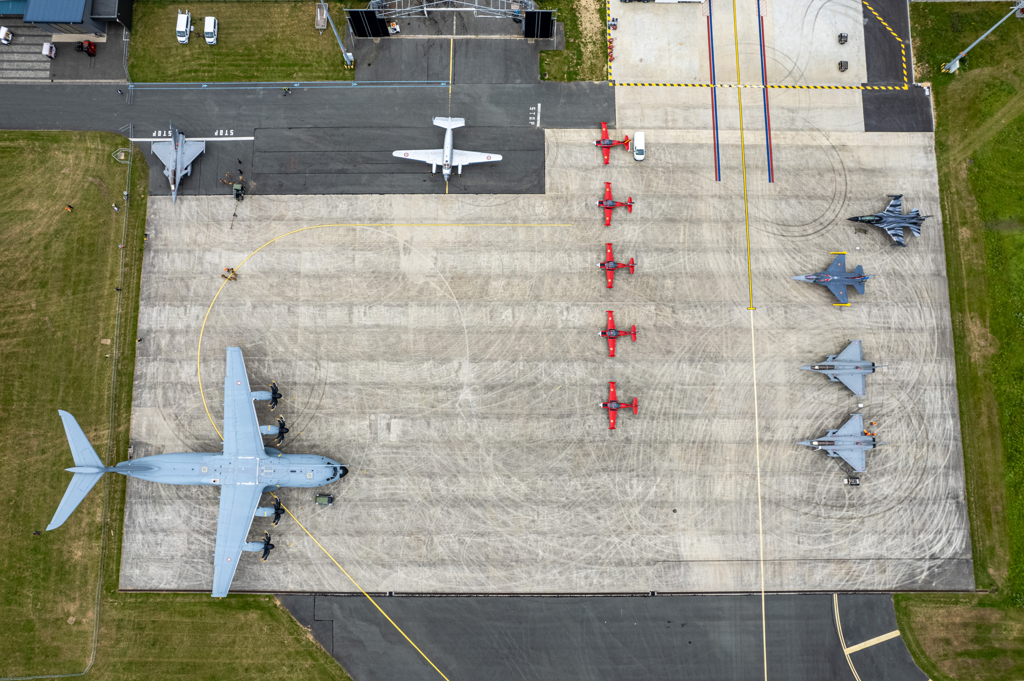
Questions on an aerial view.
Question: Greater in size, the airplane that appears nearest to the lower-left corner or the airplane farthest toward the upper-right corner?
the airplane that appears nearest to the lower-left corner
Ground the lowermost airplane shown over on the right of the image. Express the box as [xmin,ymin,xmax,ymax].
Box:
[796,414,889,472]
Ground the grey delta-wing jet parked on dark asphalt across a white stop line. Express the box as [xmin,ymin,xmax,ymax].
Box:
[152,119,207,202]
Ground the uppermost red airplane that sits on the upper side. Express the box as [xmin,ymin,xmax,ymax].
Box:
[593,122,631,165]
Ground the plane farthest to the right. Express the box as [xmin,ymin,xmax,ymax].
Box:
[849,195,935,248]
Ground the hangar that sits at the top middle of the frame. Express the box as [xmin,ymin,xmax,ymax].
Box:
[344,0,560,51]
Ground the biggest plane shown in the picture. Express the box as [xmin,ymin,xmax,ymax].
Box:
[45,347,348,599]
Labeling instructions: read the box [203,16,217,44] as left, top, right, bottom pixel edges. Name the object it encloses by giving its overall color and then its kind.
white vehicle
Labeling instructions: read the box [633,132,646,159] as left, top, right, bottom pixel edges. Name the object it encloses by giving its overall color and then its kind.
white vehicle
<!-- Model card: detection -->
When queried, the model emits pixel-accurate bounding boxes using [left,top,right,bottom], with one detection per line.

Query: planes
[593,122,631,165]
[393,112,502,182]
[152,119,207,202]
[849,195,935,248]
[597,243,637,288]
[797,340,887,396]
[595,182,635,226]
[599,382,639,430]
[796,414,889,472]
[598,311,639,357]
[792,252,874,306]
[45,347,348,599]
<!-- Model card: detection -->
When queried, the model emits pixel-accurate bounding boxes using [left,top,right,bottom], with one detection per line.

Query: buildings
[23,0,107,33]
[344,0,560,51]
